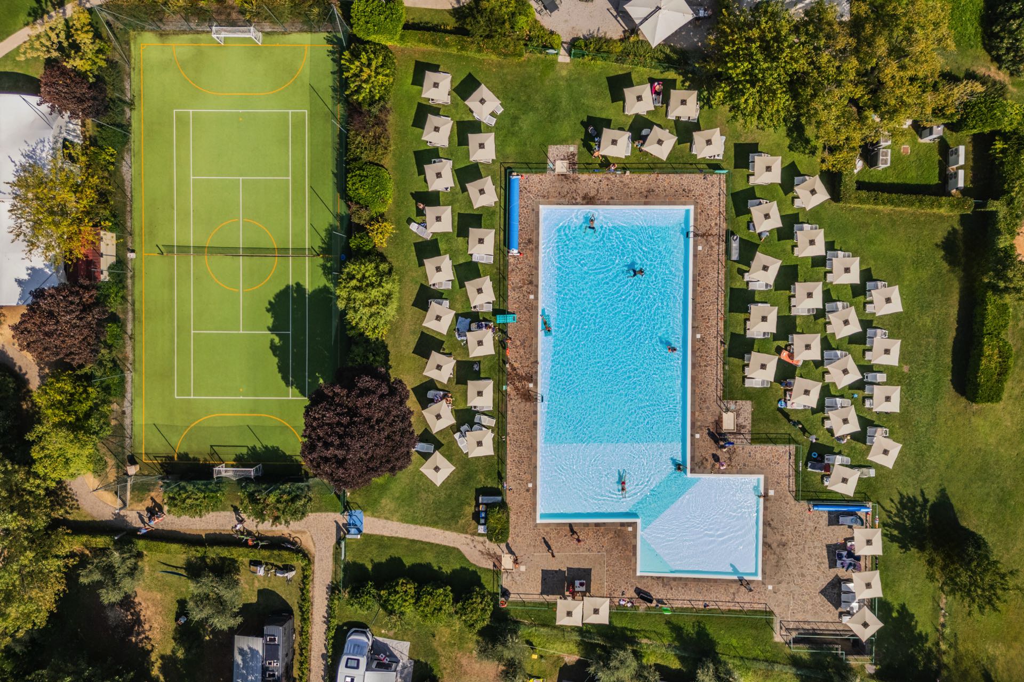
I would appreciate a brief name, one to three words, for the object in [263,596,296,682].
camper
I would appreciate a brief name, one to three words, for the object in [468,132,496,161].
umbrella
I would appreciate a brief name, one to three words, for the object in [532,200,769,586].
swimming pool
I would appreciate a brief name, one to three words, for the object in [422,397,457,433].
umbrella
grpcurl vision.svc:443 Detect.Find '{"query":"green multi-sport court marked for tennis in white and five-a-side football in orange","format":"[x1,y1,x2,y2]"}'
[131,31,350,477]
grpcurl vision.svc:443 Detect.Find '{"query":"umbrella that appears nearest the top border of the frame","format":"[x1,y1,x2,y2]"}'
[623,0,695,48]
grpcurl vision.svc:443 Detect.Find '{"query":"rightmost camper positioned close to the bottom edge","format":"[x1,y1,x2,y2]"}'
[337,618,377,682]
